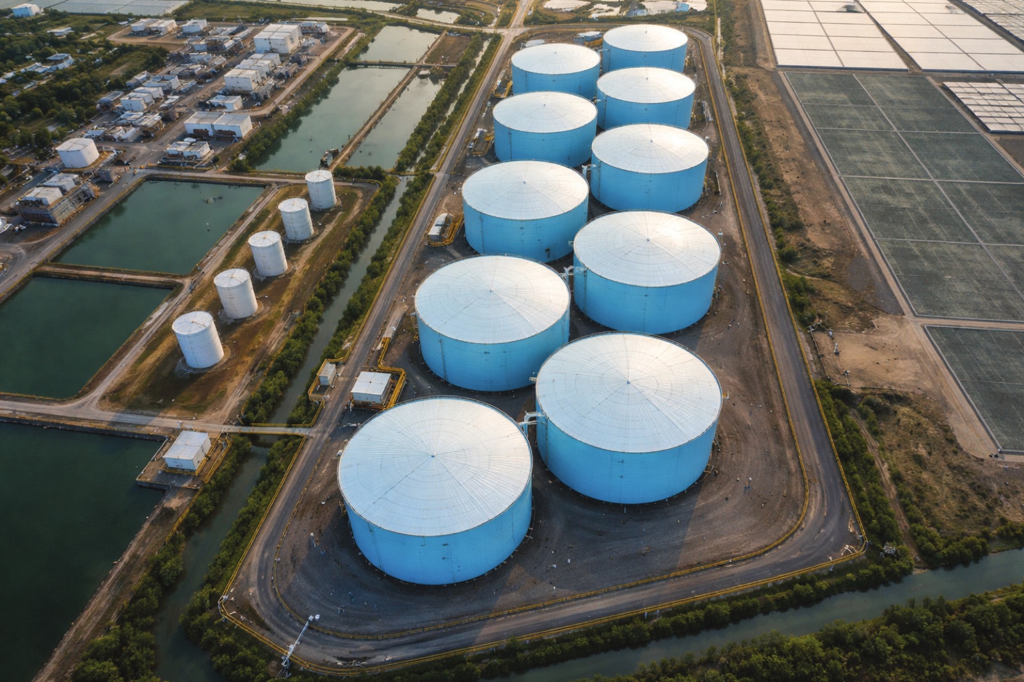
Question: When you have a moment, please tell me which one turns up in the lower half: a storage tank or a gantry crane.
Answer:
storage tank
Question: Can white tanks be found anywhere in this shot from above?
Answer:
Yes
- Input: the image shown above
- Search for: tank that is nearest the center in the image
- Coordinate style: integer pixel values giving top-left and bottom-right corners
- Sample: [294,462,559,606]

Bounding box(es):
[411,253,571,391]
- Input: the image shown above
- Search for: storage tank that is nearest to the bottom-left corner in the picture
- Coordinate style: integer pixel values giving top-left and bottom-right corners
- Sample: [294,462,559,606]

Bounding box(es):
[171,311,228,371]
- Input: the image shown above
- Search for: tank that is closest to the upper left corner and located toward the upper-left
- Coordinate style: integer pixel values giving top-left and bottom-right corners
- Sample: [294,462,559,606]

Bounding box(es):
[52,134,105,169]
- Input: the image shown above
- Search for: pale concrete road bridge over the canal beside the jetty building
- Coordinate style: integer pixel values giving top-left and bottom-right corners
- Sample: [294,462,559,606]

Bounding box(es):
[237,421,319,443]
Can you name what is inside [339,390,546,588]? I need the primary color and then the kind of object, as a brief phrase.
white storage tank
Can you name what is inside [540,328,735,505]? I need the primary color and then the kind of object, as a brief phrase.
white storage tank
